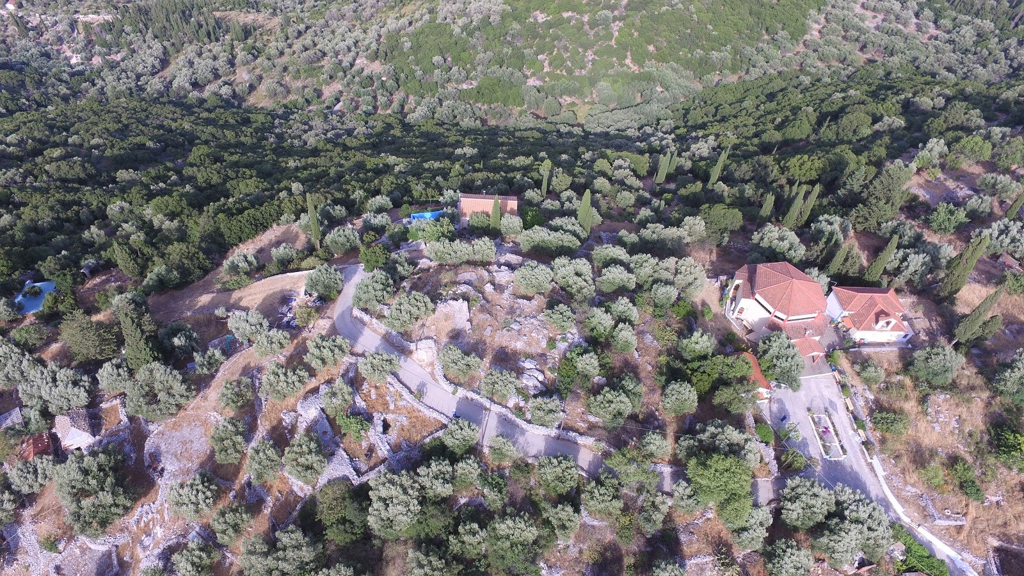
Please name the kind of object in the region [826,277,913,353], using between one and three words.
house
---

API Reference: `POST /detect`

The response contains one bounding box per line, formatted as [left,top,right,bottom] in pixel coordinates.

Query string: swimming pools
[13,280,61,305]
